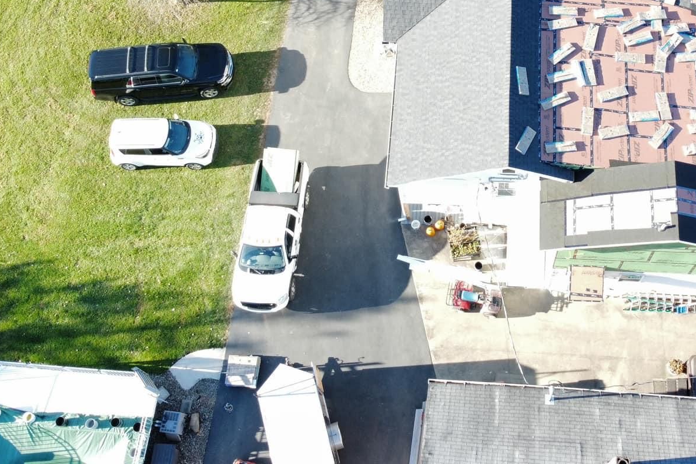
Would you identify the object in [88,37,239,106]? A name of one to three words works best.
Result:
car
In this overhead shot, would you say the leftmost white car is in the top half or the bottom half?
top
